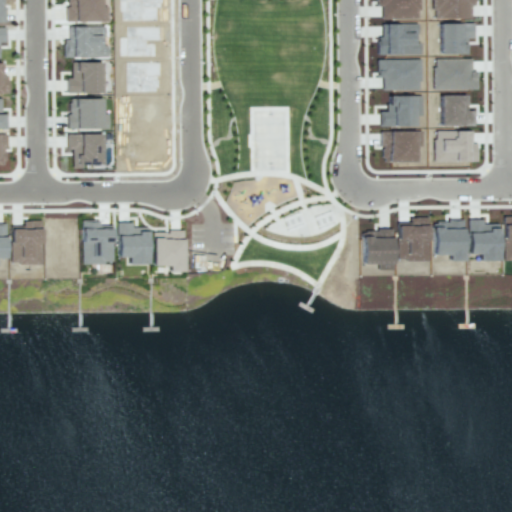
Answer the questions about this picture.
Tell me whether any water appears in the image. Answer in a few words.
Yes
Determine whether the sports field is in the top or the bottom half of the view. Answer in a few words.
top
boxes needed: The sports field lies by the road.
[214,0,327,178]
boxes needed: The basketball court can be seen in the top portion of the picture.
[248,106,290,172]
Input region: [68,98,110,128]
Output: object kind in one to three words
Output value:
house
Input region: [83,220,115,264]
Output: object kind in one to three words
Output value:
house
